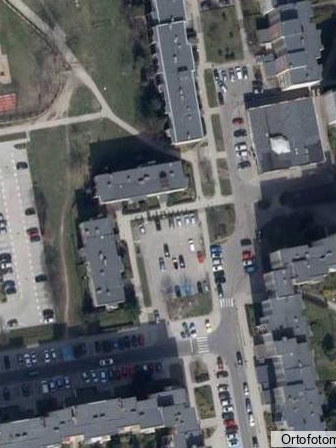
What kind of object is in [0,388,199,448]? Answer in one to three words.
building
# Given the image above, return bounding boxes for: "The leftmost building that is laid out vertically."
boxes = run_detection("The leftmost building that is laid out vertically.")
[79,216,127,311]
